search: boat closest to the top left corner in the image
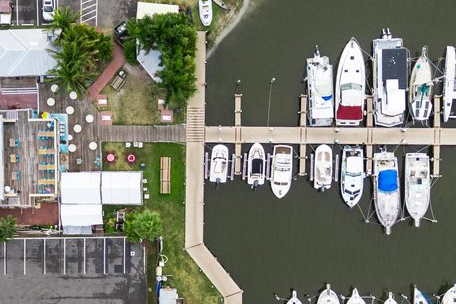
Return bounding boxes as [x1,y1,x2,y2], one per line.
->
[199,0,213,25]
